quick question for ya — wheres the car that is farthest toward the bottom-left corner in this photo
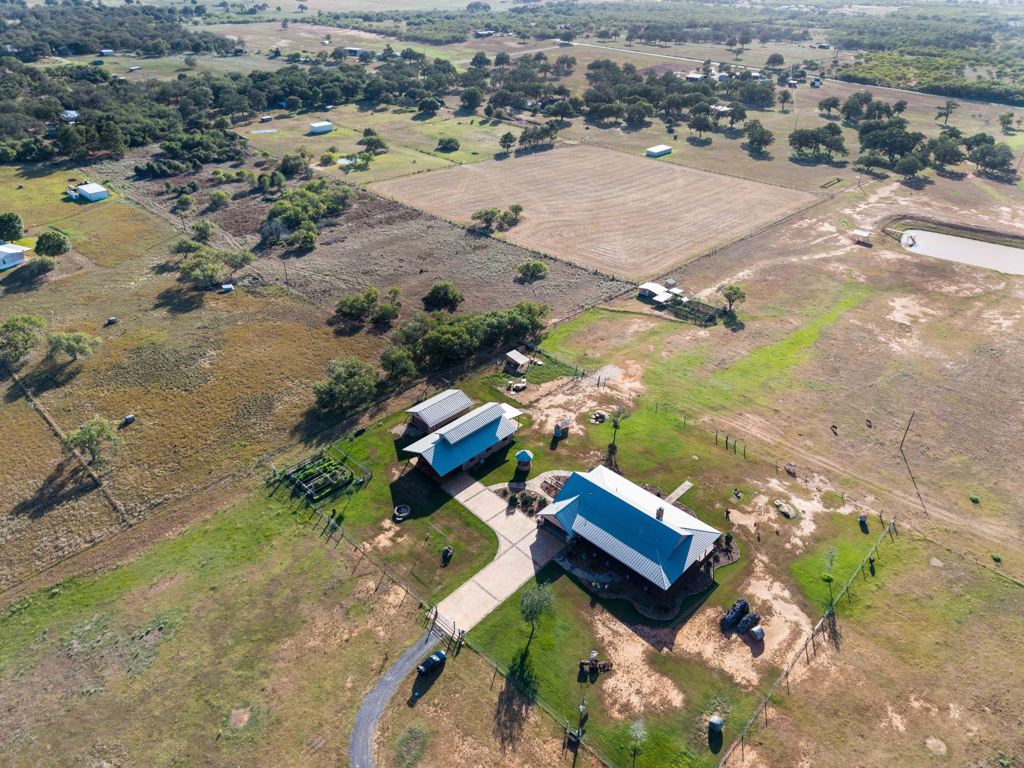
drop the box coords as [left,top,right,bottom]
[413,651,447,678]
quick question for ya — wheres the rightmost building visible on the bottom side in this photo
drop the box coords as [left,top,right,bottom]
[535,464,722,600]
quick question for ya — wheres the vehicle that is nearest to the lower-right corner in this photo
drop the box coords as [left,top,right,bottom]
[586,659,610,676]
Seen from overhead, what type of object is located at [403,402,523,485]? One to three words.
building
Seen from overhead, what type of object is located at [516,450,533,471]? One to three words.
gazebo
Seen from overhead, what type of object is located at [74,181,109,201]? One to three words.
building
